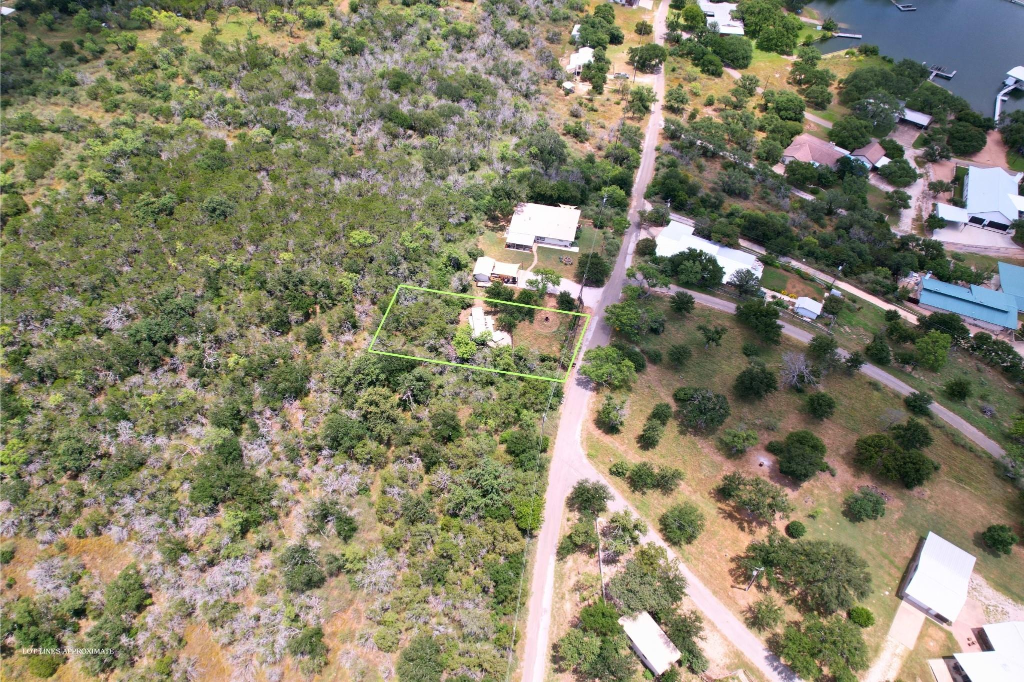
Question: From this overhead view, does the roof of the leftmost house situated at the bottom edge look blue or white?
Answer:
white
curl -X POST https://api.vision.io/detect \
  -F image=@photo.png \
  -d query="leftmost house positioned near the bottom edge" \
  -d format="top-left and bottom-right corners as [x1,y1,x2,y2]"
[622,609,683,678]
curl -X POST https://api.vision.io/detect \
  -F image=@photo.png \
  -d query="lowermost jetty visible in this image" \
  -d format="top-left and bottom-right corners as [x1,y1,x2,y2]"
[991,84,1018,127]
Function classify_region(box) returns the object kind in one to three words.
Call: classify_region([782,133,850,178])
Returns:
house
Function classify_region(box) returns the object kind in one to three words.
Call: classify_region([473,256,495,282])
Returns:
shed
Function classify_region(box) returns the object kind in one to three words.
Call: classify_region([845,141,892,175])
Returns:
building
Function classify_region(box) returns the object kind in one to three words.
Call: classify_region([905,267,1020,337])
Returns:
house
